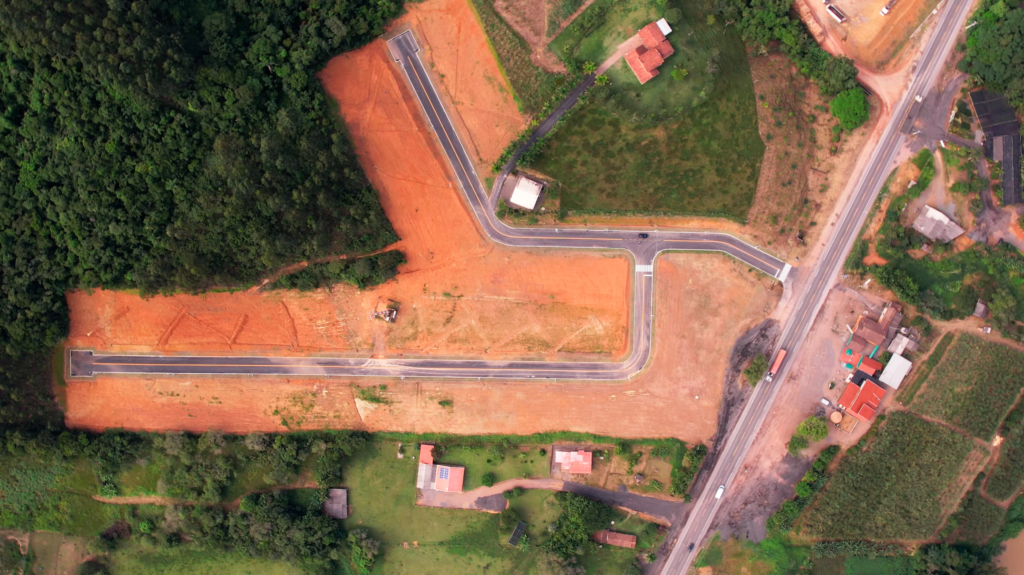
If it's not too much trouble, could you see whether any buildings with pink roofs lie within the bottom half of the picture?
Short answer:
Yes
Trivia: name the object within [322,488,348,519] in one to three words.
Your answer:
shed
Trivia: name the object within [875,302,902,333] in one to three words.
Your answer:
house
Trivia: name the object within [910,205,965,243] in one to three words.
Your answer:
building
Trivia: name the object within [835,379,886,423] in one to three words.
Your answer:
building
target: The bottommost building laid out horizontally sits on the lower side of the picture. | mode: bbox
[592,529,636,549]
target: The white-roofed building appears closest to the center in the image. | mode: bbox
[510,176,543,209]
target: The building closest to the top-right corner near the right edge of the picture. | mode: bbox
[967,89,1019,140]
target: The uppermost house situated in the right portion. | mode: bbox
[625,18,675,85]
